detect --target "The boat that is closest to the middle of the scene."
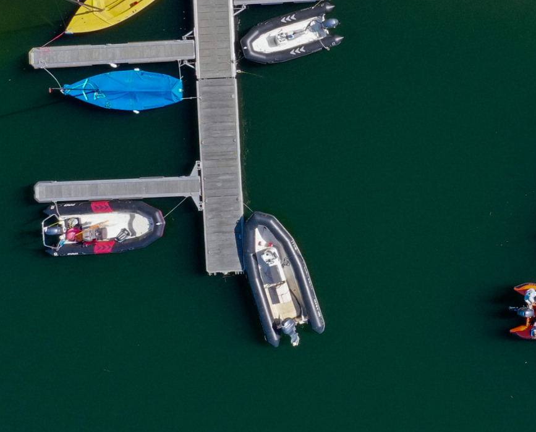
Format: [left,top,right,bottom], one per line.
[241,211,325,347]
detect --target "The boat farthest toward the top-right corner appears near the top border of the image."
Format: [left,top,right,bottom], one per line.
[239,2,344,64]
